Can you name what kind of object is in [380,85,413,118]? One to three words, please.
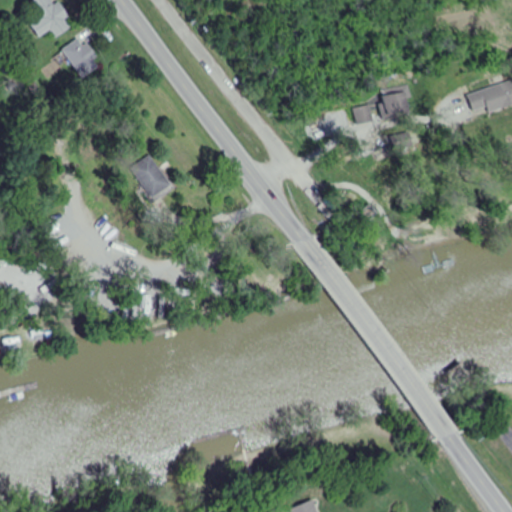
house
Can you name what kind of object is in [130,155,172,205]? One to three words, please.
house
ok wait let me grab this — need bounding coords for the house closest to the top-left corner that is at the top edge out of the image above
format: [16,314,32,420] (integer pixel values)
[29,0,73,40]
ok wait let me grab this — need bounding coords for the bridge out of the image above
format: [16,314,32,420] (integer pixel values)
[288,229,454,444]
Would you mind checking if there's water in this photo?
Yes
